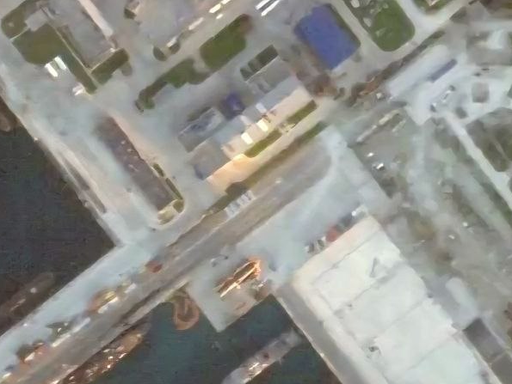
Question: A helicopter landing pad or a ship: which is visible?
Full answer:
It is a ship that can be seen here.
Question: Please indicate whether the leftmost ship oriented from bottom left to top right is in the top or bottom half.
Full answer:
The leftmost ship oriented from bottom left to top right sits in the bottom half of the picture.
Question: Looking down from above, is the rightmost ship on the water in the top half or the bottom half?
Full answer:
The rightmost ship on the water is in the bottom half of the image.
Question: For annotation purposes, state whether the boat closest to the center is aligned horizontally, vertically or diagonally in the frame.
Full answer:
What the image shows is the boat closest to the center lying diagonally.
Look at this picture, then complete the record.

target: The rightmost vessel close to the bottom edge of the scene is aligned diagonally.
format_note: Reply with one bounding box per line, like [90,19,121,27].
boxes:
[223,326,303,384]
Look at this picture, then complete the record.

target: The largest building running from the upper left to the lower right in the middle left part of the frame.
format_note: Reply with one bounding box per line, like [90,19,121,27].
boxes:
[98,116,174,210]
